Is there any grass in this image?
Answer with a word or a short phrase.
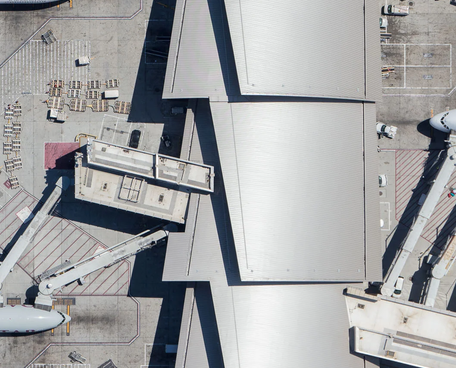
No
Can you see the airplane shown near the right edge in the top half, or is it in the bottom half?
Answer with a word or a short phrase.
top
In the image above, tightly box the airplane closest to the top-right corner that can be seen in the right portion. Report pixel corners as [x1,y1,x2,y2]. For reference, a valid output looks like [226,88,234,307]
[430,109,456,132]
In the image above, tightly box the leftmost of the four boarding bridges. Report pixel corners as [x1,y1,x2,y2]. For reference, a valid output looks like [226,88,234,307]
[0,174,75,302]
